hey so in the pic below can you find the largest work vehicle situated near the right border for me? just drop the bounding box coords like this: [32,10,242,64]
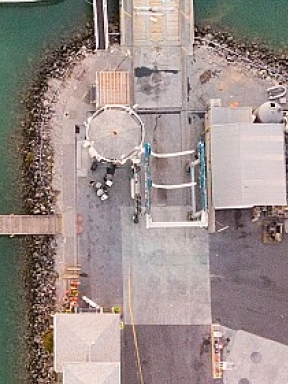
[259,219,284,244]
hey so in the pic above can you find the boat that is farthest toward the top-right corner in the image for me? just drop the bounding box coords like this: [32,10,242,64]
[268,86,286,98]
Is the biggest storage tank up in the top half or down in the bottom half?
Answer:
top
